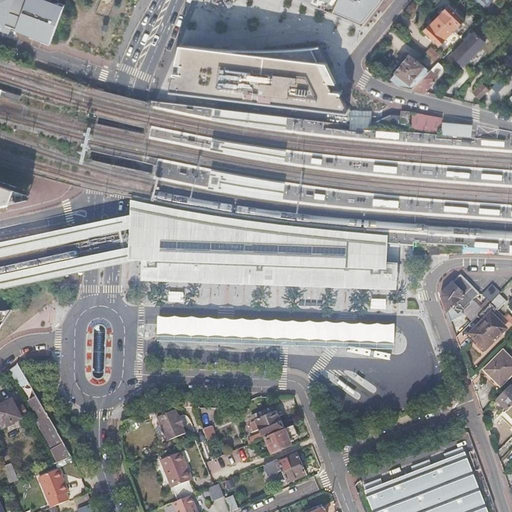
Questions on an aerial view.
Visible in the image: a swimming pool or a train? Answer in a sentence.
Looking from above, you can make out a train.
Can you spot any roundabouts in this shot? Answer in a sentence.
Yes, this view includes a roundabout.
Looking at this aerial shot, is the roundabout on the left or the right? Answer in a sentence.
The roundabout appears in the left half of the scene.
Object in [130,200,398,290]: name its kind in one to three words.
train station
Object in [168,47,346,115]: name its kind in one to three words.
building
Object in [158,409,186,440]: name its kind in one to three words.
house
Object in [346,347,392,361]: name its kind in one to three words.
vehicle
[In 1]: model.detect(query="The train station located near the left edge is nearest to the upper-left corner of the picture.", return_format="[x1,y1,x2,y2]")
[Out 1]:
[0,214,130,289]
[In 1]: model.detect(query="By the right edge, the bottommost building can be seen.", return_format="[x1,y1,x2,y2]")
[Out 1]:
[364,451,489,512]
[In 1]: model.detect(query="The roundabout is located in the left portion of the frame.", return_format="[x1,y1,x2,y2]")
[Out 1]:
[60,286,142,411]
